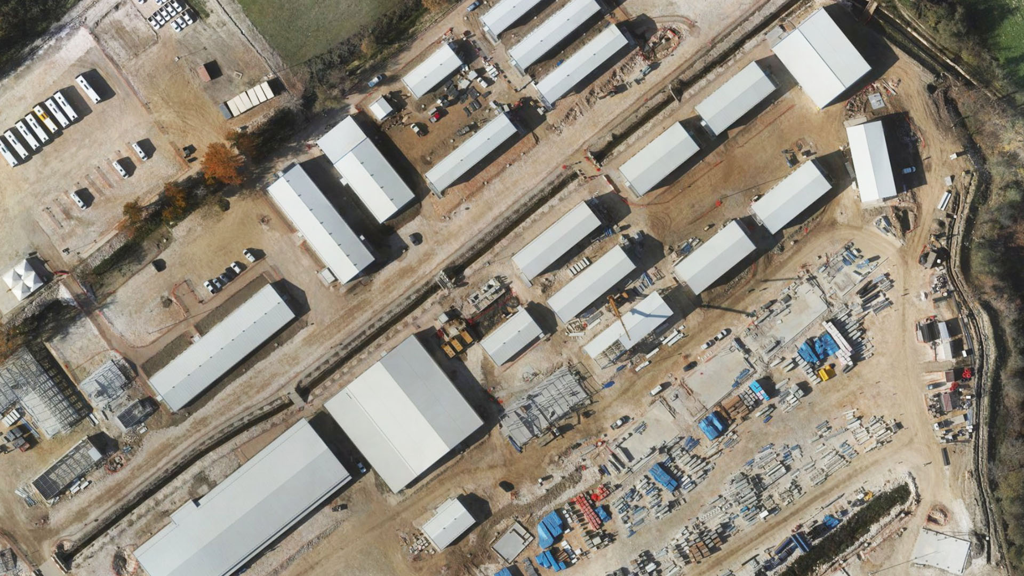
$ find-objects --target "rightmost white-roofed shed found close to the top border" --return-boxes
[772,7,872,109]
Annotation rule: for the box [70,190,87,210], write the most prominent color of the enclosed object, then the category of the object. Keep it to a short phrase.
white vehicle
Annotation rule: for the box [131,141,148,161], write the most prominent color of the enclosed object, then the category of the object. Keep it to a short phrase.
white vehicle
